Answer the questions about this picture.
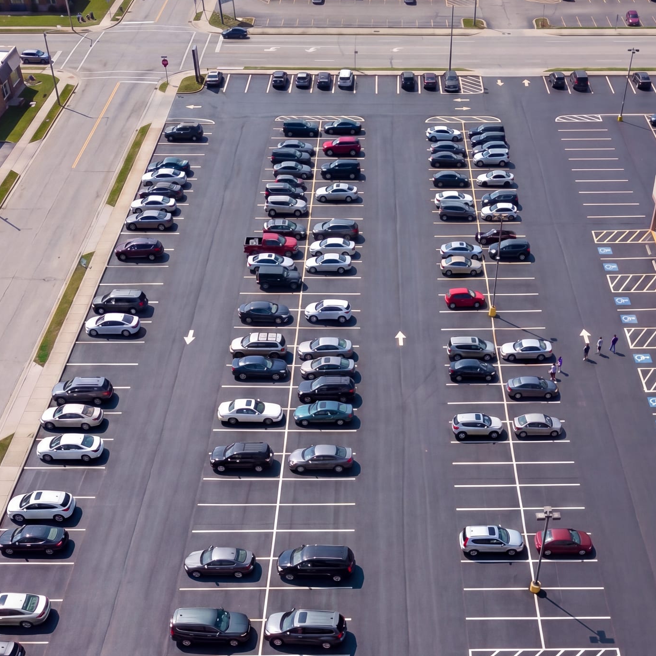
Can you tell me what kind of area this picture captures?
parking lot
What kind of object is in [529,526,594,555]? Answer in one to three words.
car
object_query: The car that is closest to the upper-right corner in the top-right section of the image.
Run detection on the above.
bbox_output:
[620,6,639,24]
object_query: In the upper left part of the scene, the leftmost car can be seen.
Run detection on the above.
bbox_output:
[17,48,49,64]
